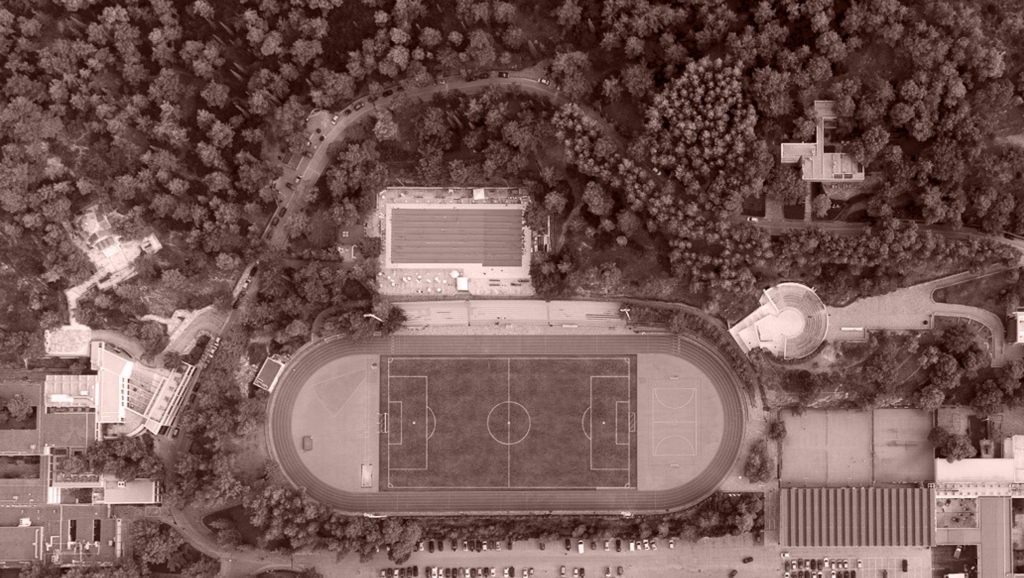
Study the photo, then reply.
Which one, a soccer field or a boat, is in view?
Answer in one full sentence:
It is a soccer field that can be seen here.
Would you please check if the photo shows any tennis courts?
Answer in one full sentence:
Yes, the frame does contain a tennis court.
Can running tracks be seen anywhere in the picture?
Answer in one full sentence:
Yes, there's a running track down there.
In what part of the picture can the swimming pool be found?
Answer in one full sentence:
The swimming pool appears toward the center of the photo.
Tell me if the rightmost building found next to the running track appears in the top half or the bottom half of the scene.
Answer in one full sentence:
The bottom half of the photo is where the rightmost building found next to the running track is.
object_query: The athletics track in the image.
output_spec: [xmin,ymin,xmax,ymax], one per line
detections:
[266,329,749,518]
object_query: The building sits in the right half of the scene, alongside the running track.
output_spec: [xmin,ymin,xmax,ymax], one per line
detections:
[779,484,935,547]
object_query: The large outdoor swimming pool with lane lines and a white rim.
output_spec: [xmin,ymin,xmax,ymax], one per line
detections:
[386,204,531,278]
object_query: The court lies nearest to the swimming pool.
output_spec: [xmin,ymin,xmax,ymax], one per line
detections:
[637,354,723,492]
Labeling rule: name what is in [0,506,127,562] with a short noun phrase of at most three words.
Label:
building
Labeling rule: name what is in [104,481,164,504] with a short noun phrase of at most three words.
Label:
building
